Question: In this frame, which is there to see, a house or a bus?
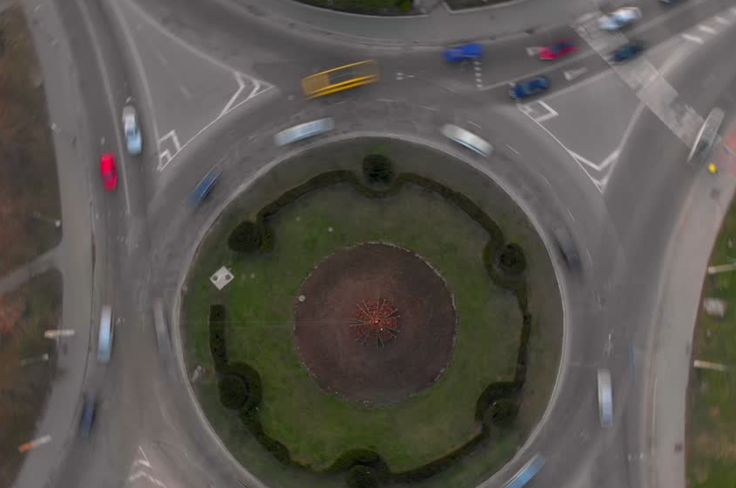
bus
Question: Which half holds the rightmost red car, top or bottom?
top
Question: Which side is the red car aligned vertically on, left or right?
left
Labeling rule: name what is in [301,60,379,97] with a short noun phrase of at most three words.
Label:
bus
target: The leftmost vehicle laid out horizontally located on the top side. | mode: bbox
[275,117,333,144]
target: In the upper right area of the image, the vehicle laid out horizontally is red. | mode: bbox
[537,37,578,61]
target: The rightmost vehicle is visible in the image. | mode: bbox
[680,107,724,165]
